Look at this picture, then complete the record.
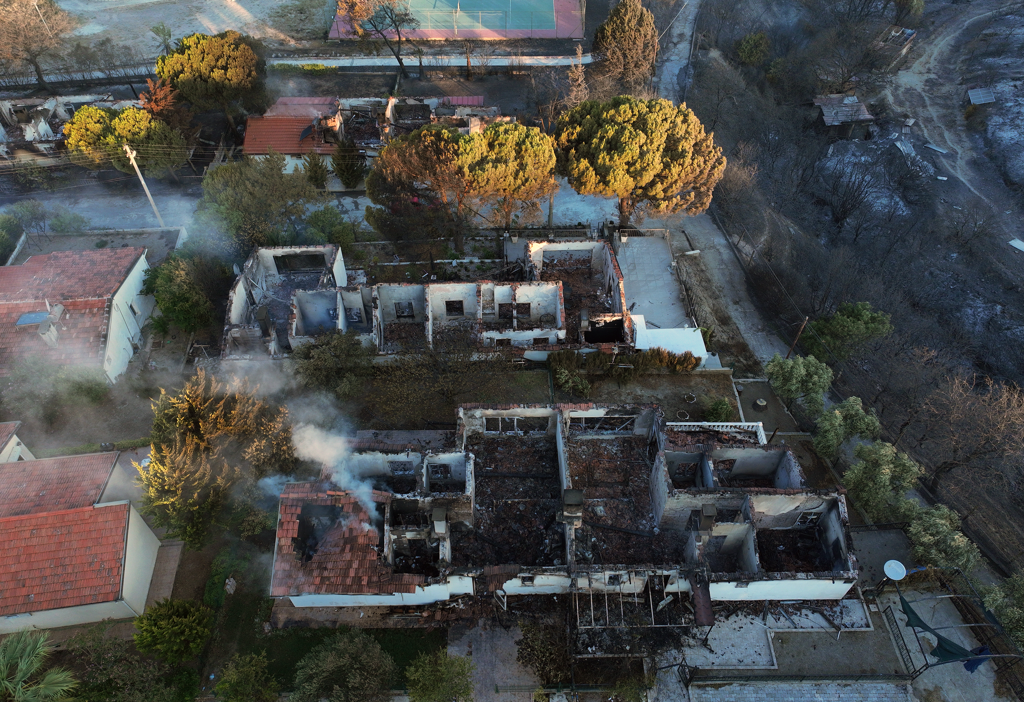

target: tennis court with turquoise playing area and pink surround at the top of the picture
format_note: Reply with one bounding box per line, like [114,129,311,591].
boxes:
[327,0,585,40]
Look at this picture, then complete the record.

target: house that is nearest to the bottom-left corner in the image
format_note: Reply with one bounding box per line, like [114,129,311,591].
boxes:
[0,446,164,617]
